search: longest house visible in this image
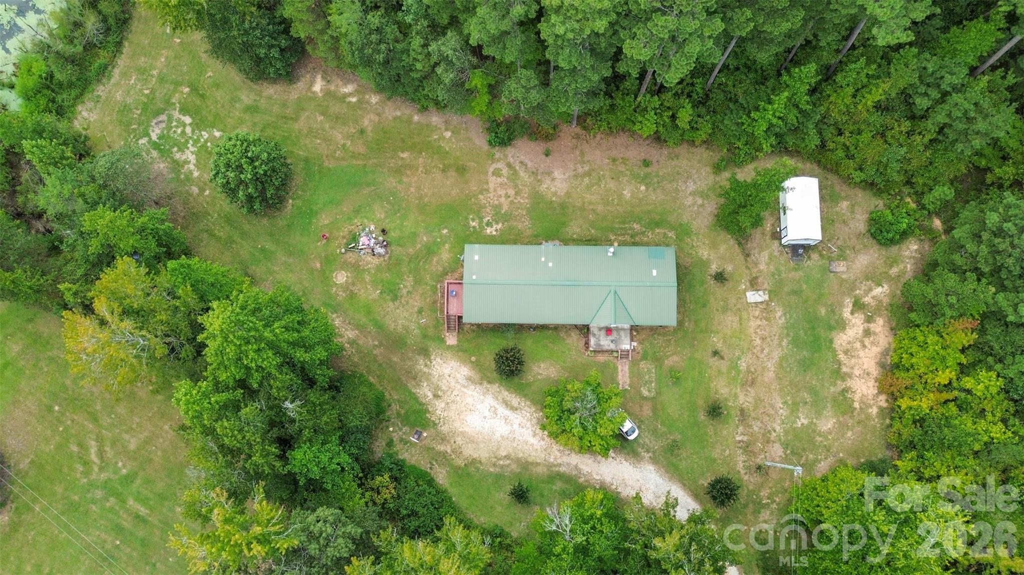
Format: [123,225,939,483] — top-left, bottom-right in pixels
[462,244,679,327]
